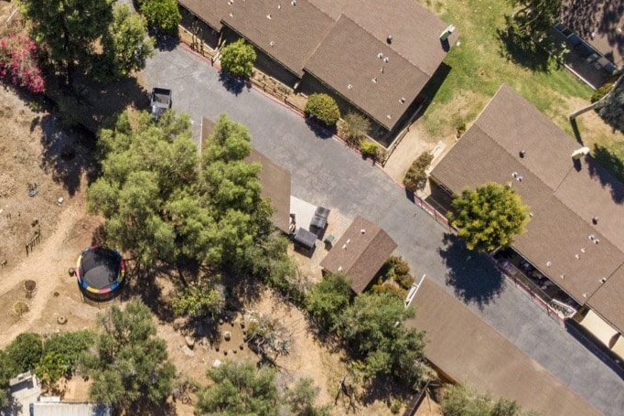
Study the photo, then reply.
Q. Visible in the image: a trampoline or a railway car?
trampoline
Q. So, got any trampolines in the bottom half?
Yes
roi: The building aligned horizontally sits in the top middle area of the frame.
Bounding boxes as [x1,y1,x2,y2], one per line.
[178,0,462,131]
